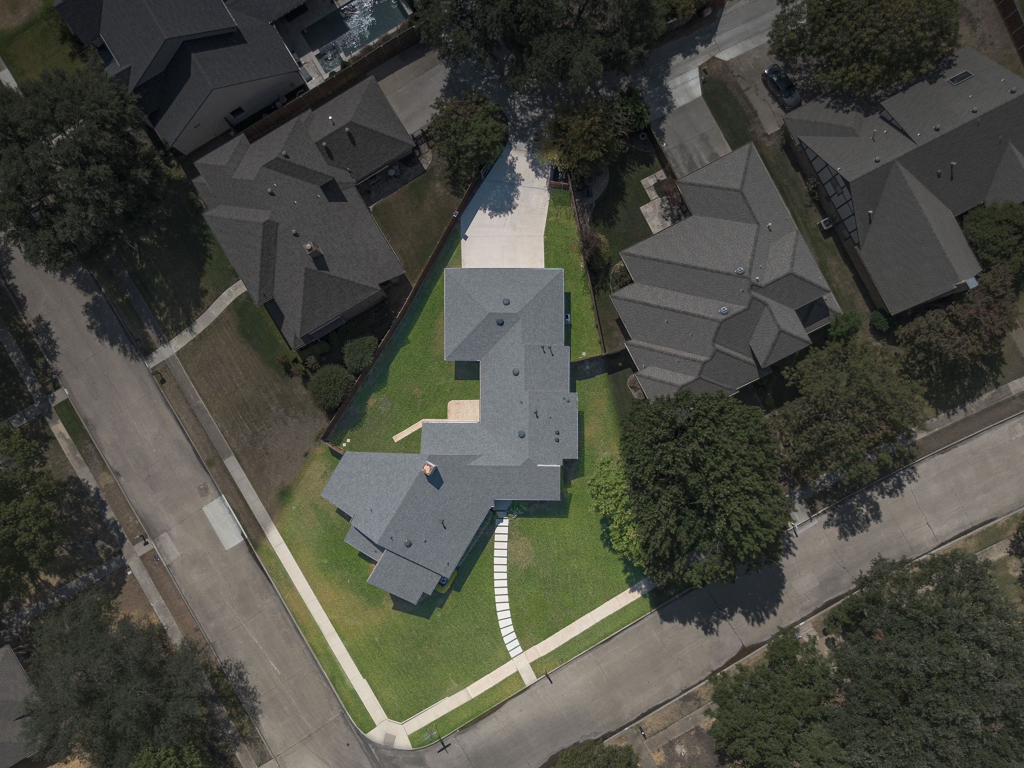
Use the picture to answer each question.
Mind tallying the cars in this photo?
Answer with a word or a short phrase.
1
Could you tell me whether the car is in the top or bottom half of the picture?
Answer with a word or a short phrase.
top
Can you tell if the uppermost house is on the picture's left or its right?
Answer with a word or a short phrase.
left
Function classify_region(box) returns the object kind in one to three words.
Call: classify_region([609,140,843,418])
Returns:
house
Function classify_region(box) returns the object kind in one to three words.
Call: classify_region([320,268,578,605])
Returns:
house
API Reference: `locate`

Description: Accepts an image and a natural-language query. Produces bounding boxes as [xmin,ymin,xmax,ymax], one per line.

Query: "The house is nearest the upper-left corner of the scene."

[56,0,310,154]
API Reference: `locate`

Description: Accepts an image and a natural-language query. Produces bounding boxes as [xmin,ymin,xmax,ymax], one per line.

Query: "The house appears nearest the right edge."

[775,46,1024,316]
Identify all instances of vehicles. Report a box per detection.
[764,61,803,112]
